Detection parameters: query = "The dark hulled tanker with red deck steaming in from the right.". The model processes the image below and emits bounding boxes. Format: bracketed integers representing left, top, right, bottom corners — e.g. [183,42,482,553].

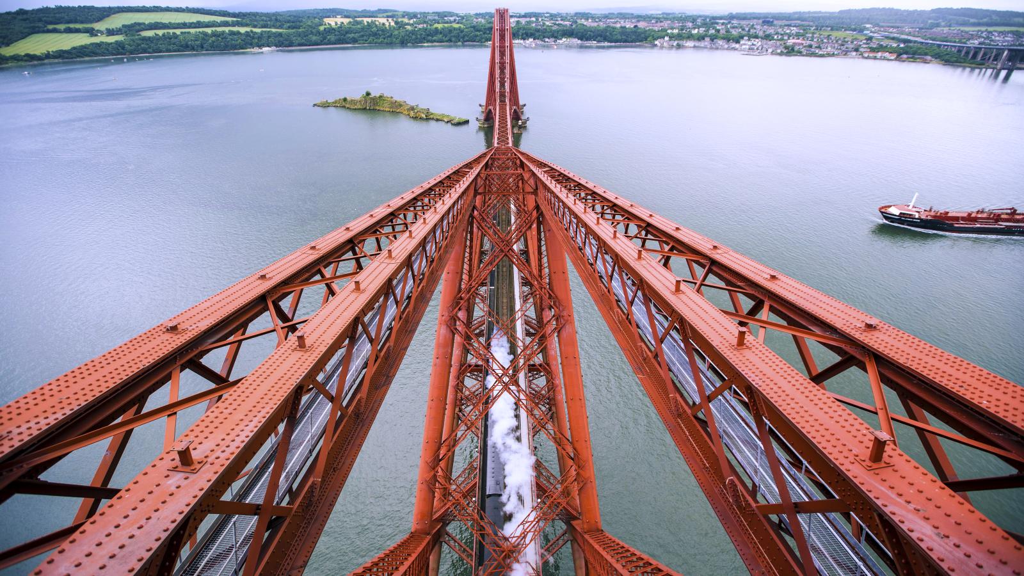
[882,192,1024,240]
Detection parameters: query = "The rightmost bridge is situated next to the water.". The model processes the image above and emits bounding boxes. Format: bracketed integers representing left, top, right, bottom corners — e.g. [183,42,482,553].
[884,37,1024,71]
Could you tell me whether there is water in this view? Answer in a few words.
Yes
